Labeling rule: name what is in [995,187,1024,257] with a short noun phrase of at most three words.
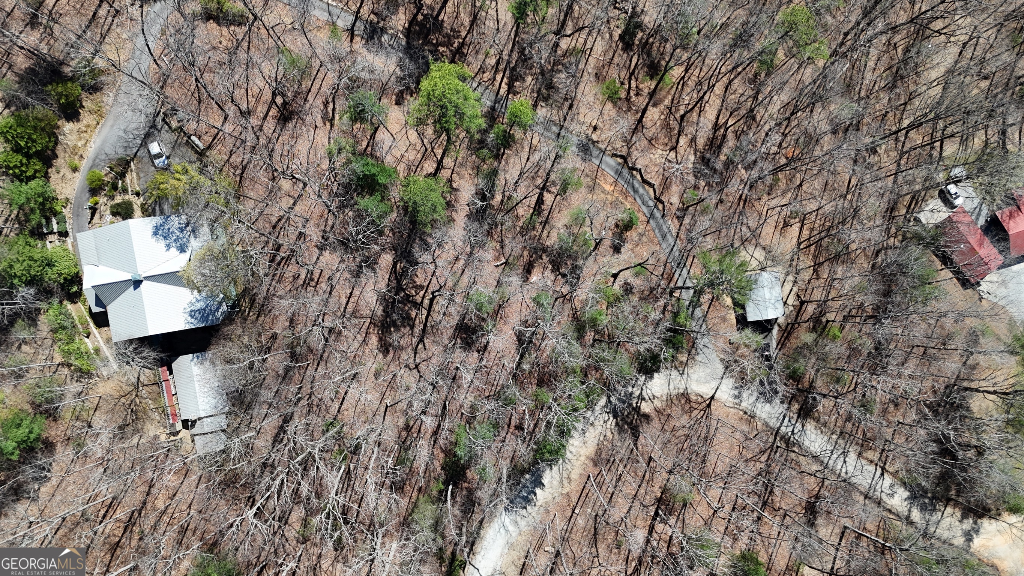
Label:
house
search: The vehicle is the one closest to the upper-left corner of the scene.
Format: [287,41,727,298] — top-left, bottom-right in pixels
[146,139,167,168]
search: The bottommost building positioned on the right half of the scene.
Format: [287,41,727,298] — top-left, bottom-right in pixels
[741,272,784,321]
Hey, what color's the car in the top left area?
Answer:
white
